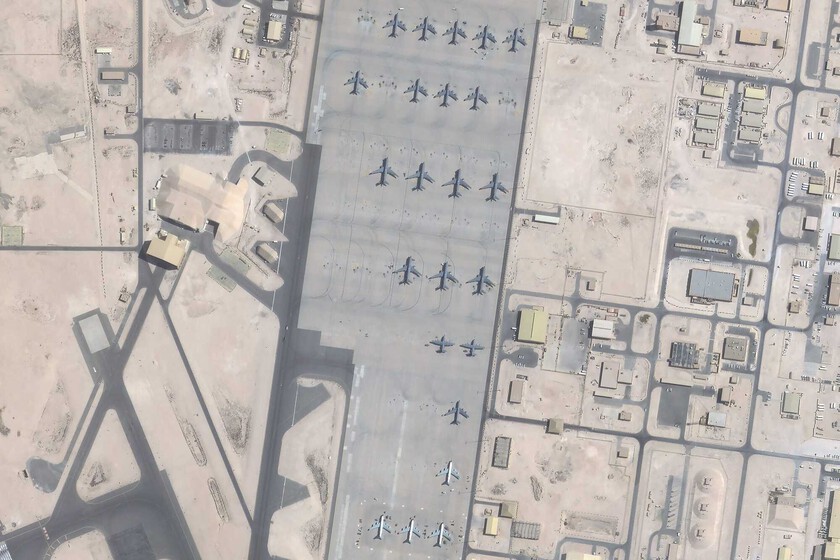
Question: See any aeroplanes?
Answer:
Yes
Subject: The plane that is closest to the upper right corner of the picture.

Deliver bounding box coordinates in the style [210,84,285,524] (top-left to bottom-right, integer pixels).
[503,29,527,52]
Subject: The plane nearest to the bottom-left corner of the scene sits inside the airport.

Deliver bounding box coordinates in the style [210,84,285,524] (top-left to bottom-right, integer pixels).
[368,516,393,540]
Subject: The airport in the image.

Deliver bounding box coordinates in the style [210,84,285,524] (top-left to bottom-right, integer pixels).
[0,0,541,560]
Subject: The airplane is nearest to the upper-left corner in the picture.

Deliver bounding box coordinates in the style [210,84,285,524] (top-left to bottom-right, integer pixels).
[345,71,368,95]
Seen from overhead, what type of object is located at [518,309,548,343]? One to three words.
hangar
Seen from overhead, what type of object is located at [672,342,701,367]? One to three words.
building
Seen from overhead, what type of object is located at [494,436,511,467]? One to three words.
building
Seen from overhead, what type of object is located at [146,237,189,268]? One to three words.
hangar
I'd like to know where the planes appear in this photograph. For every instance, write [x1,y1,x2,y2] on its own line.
[503,29,527,52]
[407,162,436,191]
[468,267,496,295]
[442,170,471,198]
[345,71,368,95]
[399,519,423,544]
[436,462,462,486]
[431,262,459,290]
[371,157,399,186]
[404,79,428,102]
[442,20,467,44]
[413,16,438,40]
[433,84,458,107]
[463,87,488,111]
[473,25,497,49]
[460,339,486,357]
[383,13,408,37]
[431,335,456,353]
[479,173,508,202]
[368,516,393,540]
[394,257,422,285]
[427,522,453,548]
[445,401,469,426]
